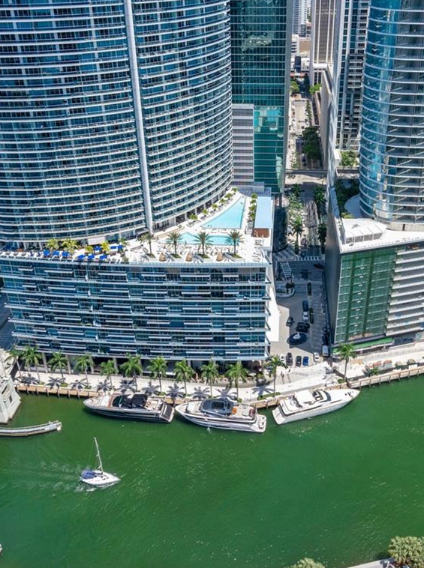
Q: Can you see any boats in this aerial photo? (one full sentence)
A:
Yes, you can see a boat in this photo.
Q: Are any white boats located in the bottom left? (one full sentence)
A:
Yes, the scene does show a white boat in the bottom left.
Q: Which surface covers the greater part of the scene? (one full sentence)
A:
The bulk of the photo consists of buildings.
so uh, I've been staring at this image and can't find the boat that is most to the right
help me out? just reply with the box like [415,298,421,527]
[273,383,362,425]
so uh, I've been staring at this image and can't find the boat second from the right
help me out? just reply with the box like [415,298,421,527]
[176,399,273,434]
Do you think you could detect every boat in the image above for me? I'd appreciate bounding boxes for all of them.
[273,383,362,425]
[84,392,179,423]
[176,399,273,434]
[81,445,118,484]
